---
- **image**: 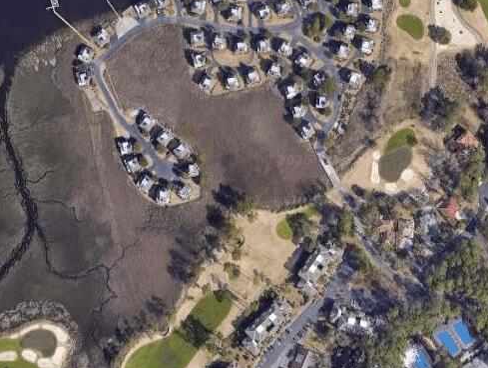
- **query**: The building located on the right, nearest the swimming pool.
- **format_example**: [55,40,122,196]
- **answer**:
[331,307,378,334]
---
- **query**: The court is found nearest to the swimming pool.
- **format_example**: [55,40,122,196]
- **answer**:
[433,324,463,358]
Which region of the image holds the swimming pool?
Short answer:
bottom right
